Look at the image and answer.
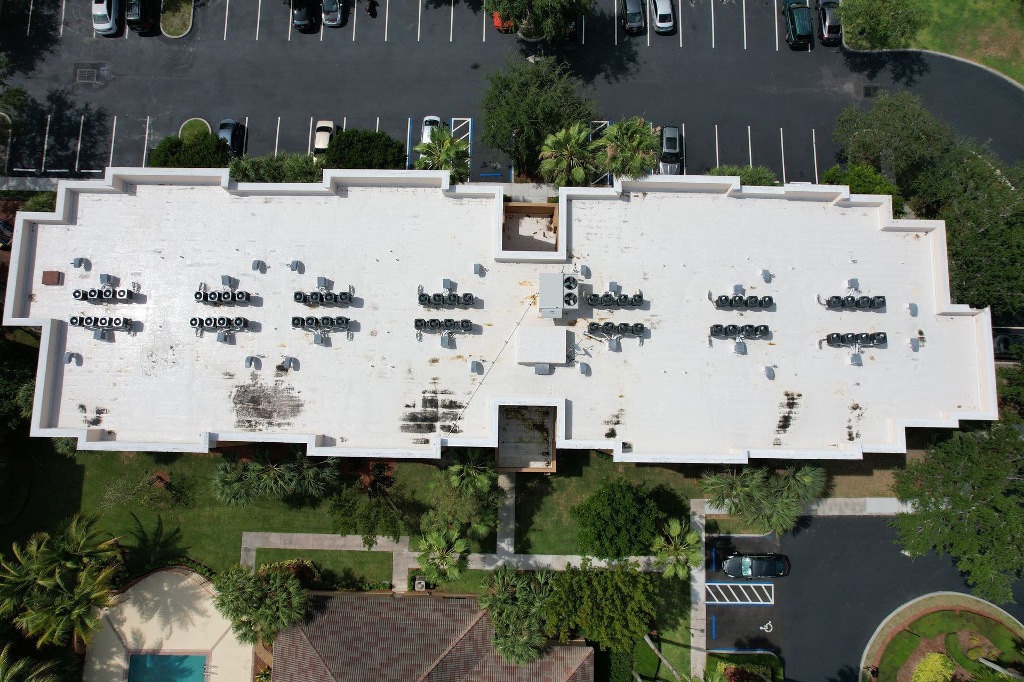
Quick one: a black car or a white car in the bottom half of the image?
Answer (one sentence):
Looking in the bottom half of the image, you will find a black car.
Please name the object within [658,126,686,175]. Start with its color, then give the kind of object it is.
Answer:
gray car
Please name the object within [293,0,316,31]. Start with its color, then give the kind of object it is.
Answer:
black car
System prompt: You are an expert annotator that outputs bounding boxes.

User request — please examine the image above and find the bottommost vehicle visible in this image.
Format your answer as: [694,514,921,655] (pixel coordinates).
[728,552,792,581]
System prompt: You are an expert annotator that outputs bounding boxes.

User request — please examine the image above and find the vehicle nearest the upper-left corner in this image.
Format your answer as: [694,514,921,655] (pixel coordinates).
[93,0,121,36]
